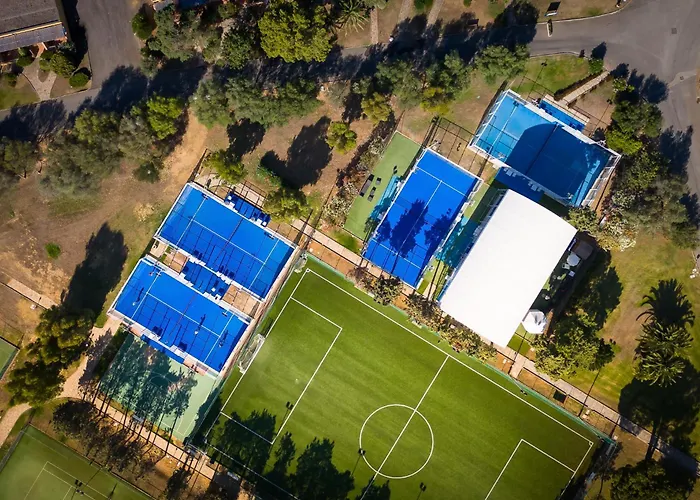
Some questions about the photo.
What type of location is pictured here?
sports ground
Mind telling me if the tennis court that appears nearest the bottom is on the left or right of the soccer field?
left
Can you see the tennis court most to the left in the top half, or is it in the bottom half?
bottom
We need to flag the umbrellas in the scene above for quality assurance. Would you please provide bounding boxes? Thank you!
[521,309,546,333]
[563,252,580,266]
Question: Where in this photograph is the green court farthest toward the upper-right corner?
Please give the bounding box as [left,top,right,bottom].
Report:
[343,131,421,240]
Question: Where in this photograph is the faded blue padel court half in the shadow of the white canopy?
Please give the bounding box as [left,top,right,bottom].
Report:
[464,88,618,213]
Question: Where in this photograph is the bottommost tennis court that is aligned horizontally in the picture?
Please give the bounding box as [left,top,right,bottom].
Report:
[0,418,166,500]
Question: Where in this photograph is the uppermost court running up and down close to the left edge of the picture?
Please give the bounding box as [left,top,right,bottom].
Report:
[0,330,21,378]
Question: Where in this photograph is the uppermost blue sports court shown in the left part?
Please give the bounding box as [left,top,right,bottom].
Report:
[154,181,303,304]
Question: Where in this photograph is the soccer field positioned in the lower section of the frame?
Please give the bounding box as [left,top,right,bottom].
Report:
[189,258,608,500]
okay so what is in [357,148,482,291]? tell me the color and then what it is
blue sports court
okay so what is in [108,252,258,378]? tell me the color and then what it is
blue sports court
